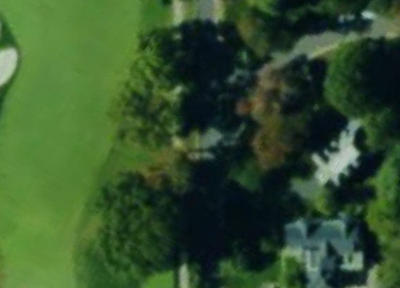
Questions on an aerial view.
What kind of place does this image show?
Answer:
golf course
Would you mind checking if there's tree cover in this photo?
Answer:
Yes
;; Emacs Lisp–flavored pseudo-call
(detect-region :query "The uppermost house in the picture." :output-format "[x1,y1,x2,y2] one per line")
[309,121,365,188]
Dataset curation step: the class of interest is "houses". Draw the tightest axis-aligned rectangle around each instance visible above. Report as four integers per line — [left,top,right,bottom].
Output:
[309,121,365,188]
[287,219,365,288]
